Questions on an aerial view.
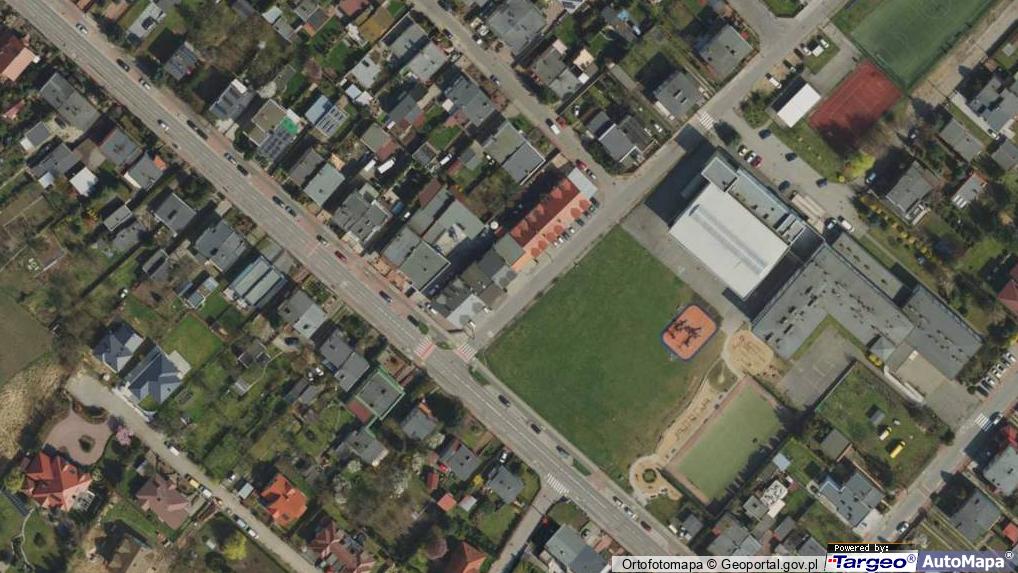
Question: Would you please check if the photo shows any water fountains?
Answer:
No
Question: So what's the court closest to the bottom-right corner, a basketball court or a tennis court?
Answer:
basketball court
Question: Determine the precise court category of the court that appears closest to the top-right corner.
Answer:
tennis court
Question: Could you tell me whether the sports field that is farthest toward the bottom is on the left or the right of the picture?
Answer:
right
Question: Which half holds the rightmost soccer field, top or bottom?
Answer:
top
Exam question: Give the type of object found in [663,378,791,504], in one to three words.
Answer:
sports field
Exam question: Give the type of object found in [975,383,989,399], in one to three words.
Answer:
vehicle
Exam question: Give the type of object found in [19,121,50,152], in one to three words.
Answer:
shed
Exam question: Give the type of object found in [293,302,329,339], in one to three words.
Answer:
house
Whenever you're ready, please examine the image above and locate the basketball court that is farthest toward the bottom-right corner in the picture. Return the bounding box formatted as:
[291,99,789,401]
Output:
[791,343,843,401]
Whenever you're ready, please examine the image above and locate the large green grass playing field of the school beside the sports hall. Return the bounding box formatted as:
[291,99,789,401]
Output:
[488,230,734,483]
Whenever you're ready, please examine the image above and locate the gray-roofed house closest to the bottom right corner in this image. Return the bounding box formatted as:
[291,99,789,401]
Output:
[951,490,1004,542]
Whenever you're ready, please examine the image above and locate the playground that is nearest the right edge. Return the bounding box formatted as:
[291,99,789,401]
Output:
[721,329,775,379]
